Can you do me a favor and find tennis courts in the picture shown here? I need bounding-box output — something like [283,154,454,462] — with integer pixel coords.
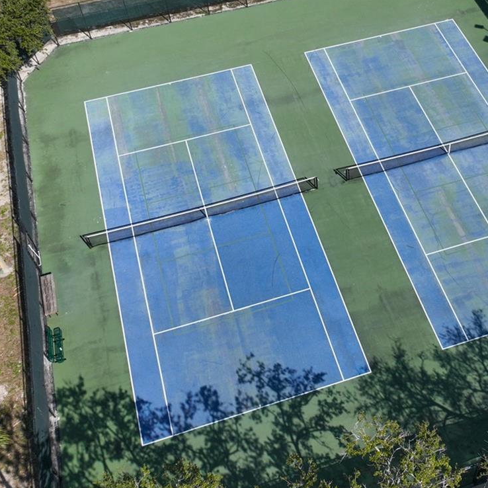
[305,20,488,348]
[86,64,370,444]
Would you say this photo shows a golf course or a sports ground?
sports ground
